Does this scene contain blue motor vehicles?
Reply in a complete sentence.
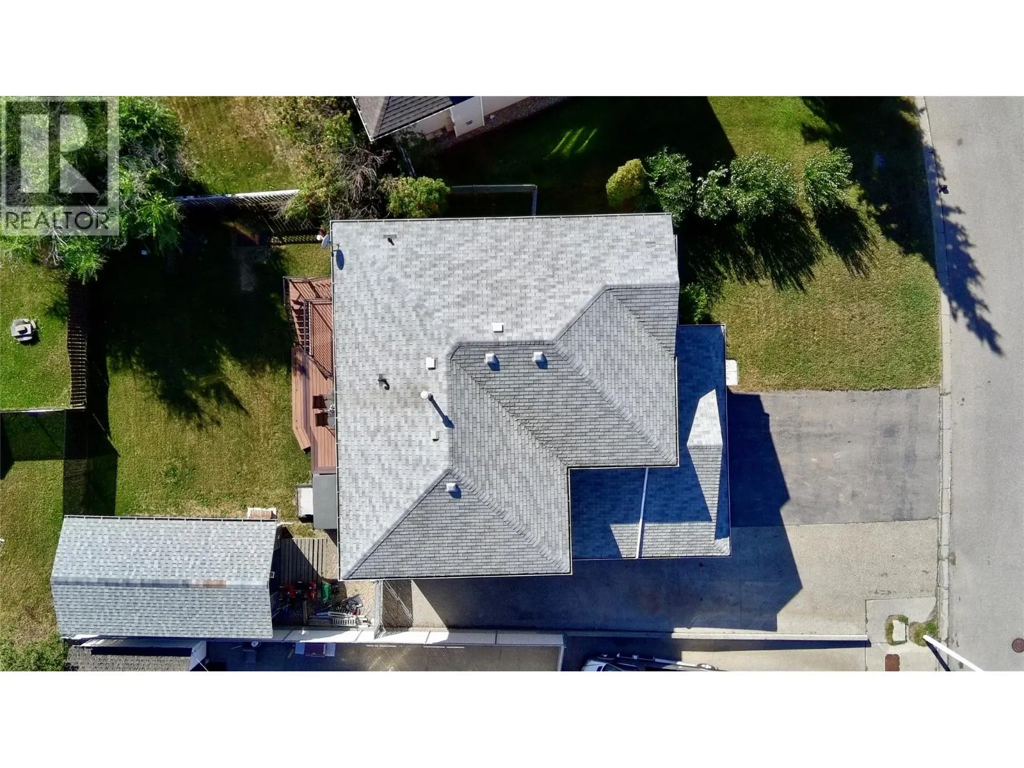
No, the scene contains no blue motor vehicle.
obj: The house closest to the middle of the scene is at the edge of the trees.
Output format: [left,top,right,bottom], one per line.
[331,212,731,579]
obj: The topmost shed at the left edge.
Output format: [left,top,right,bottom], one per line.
[51,515,286,637]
